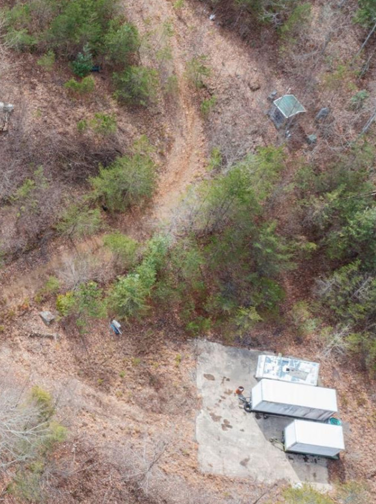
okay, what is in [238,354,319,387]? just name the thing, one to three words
camper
